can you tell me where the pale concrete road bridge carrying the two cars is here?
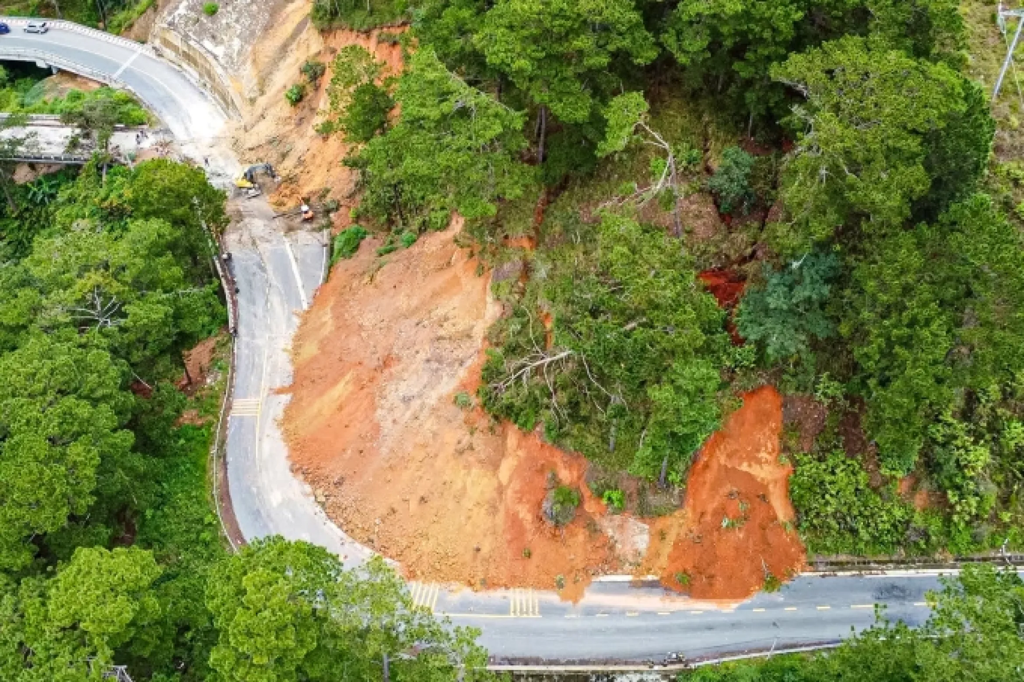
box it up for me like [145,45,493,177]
[0,21,149,94]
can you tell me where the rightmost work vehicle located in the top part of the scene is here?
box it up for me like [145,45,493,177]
[297,193,314,222]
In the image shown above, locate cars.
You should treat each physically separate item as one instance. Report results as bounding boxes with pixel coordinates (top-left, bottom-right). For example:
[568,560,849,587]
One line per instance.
[17,19,50,36]
[0,23,11,36]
